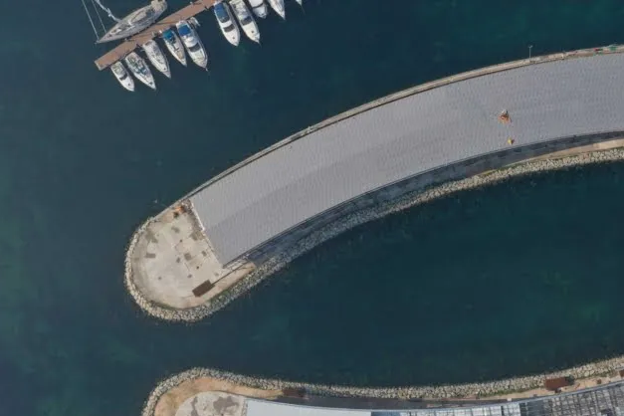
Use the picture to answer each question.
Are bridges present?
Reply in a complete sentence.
No, there is no bridge in the image.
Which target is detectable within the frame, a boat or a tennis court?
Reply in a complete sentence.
The image shows a boat.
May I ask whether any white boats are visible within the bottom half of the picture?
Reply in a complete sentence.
No, the scene shows no white boat within the bottom half of the picture.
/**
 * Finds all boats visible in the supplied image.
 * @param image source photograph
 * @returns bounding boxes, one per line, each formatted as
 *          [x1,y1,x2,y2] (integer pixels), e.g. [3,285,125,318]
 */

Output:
[245,0,267,20]
[209,2,240,47]
[228,0,261,45]
[265,0,286,21]
[78,0,172,44]
[159,27,188,67]
[112,58,136,91]
[143,36,173,78]
[125,48,157,90]
[175,20,210,70]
